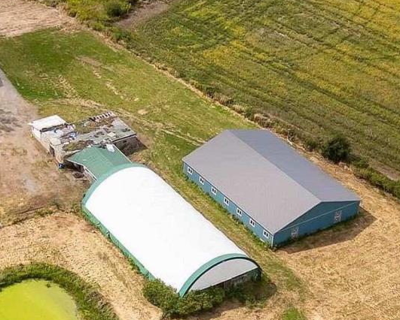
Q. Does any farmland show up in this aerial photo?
Yes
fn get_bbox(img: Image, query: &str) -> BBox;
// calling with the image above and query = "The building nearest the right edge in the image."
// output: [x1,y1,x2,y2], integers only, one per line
[182,128,362,246]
